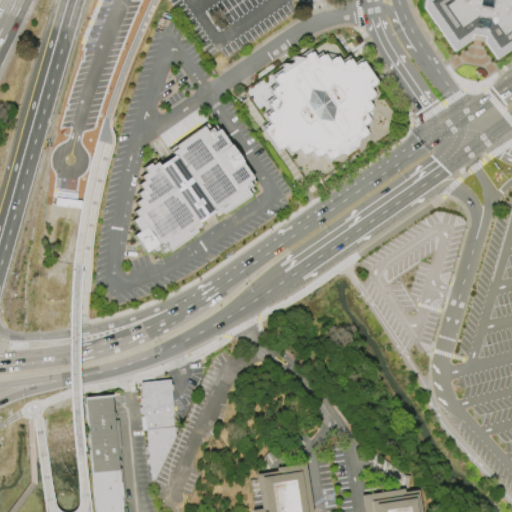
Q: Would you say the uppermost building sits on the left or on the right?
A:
right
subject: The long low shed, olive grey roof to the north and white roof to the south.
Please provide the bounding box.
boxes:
[86,395,124,512]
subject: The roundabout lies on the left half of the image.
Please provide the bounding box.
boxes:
[52,139,90,198]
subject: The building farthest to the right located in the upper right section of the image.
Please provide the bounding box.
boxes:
[430,0,512,60]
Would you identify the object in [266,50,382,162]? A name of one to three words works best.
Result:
building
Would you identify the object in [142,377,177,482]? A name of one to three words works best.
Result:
shed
